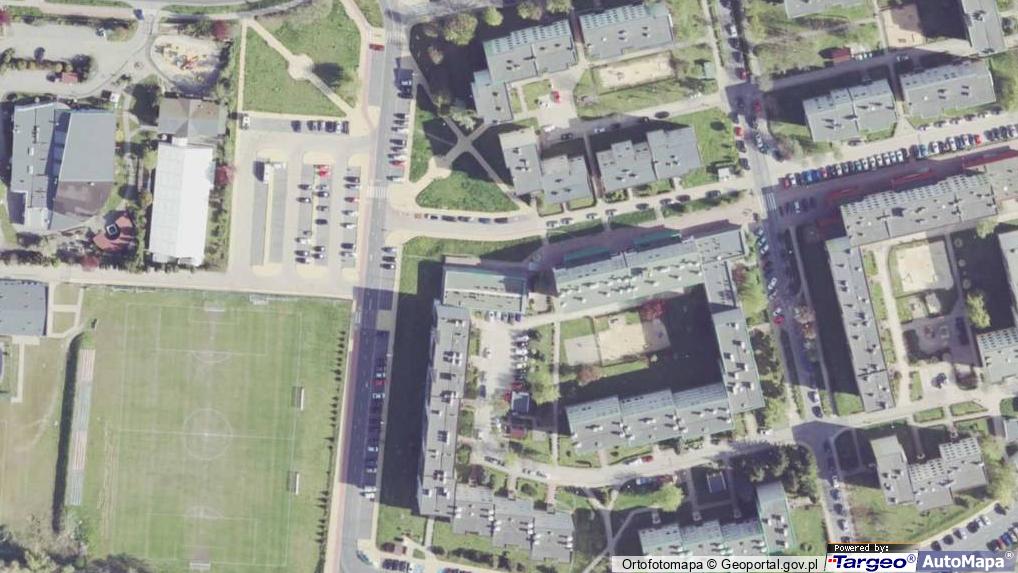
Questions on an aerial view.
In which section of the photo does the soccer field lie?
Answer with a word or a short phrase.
bottom left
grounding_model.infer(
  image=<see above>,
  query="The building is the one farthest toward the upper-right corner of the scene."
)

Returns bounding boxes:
[962,0,1005,55]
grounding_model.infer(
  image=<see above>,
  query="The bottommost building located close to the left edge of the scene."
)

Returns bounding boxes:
[0,275,48,336]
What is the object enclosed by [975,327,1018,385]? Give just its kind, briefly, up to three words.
building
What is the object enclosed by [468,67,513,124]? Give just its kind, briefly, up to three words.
building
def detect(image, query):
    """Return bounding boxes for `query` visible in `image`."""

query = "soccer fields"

[70,292,352,573]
